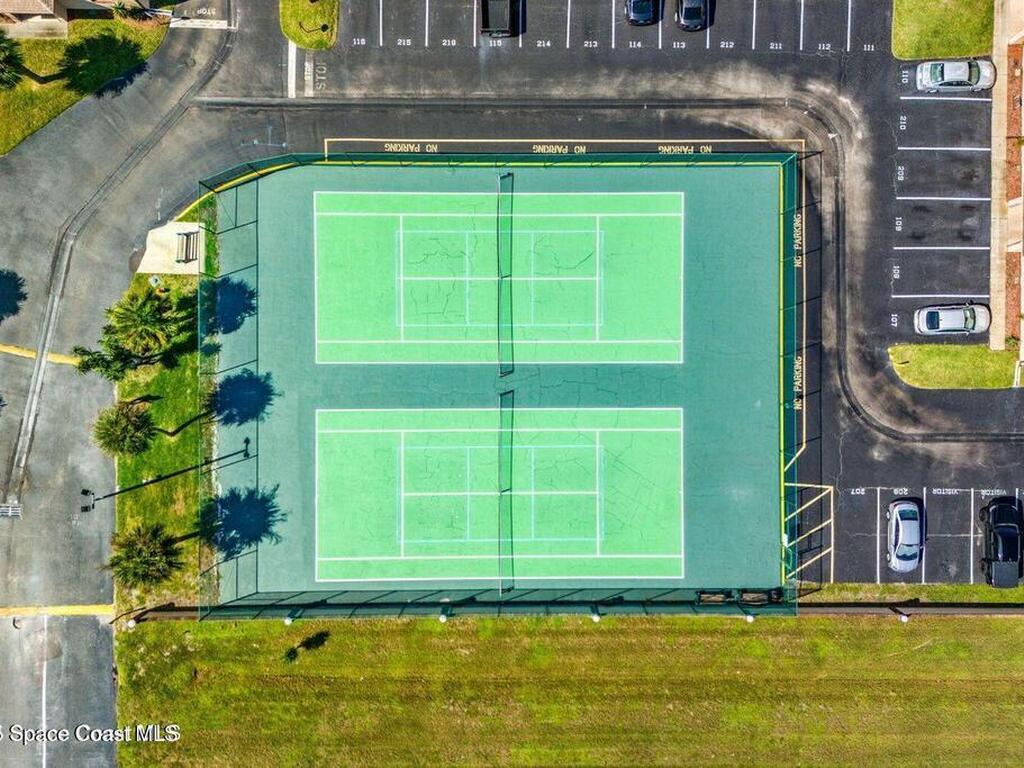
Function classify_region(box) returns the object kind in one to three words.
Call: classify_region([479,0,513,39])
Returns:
truck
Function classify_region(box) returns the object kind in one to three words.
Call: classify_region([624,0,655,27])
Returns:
car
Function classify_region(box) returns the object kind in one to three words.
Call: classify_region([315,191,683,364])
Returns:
tennis court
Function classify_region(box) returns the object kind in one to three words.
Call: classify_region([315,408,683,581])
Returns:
tennis court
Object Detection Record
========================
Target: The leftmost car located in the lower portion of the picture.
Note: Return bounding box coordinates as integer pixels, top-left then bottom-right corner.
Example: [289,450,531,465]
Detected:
[885,500,925,571]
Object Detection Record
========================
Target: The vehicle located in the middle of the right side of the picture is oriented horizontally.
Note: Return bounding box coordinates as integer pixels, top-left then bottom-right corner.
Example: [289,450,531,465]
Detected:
[913,301,989,337]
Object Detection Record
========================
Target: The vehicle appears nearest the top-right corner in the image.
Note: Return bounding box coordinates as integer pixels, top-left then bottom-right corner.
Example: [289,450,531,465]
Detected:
[916,55,993,94]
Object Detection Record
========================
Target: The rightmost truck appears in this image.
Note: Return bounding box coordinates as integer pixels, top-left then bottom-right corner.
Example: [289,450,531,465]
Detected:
[977,499,1024,590]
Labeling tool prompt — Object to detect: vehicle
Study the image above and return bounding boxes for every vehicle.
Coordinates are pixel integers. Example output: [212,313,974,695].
[885,500,925,571]
[624,0,655,27]
[977,499,1024,590]
[676,0,706,33]
[916,55,993,94]
[479,0,513,39]
[913,301,989,337]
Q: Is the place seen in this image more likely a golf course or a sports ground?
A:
sports ground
